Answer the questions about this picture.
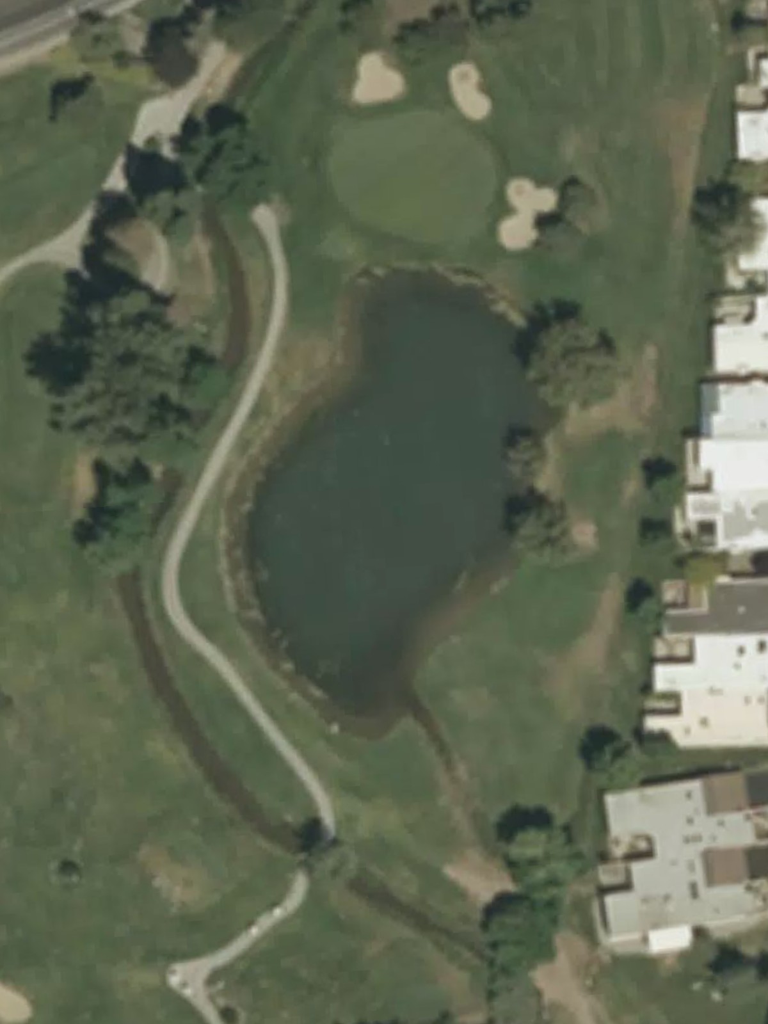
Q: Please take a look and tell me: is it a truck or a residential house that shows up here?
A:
residential house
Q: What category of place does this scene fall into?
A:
golf course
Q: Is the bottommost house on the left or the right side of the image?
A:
right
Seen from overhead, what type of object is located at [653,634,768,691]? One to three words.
house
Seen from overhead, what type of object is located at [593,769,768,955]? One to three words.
house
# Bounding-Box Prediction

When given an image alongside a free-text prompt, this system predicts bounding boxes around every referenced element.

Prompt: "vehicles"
[181,986,192,998]
[249,924,260,935]
[272,906,283,917]
[170,974,179,986]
